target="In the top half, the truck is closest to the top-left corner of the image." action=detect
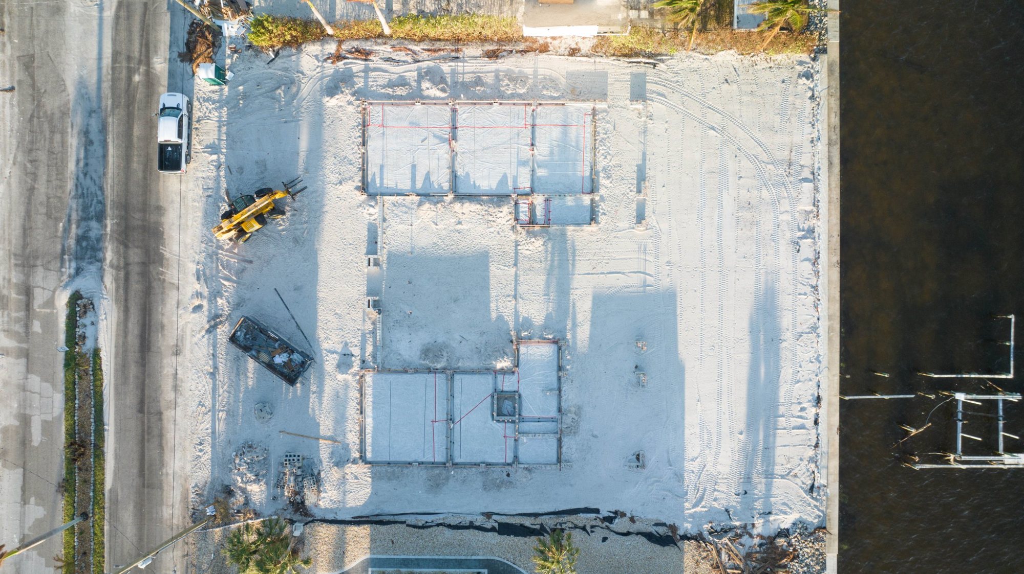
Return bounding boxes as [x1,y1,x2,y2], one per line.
[152,93,192,174]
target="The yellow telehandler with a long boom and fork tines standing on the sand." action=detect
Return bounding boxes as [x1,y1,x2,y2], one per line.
[211,176,310,243]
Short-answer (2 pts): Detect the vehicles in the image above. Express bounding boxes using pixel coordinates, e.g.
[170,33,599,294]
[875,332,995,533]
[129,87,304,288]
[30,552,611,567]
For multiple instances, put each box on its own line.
[211,176,310,243]
[152,93,192,174]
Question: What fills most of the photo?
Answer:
paved ground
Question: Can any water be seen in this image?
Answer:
Yes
